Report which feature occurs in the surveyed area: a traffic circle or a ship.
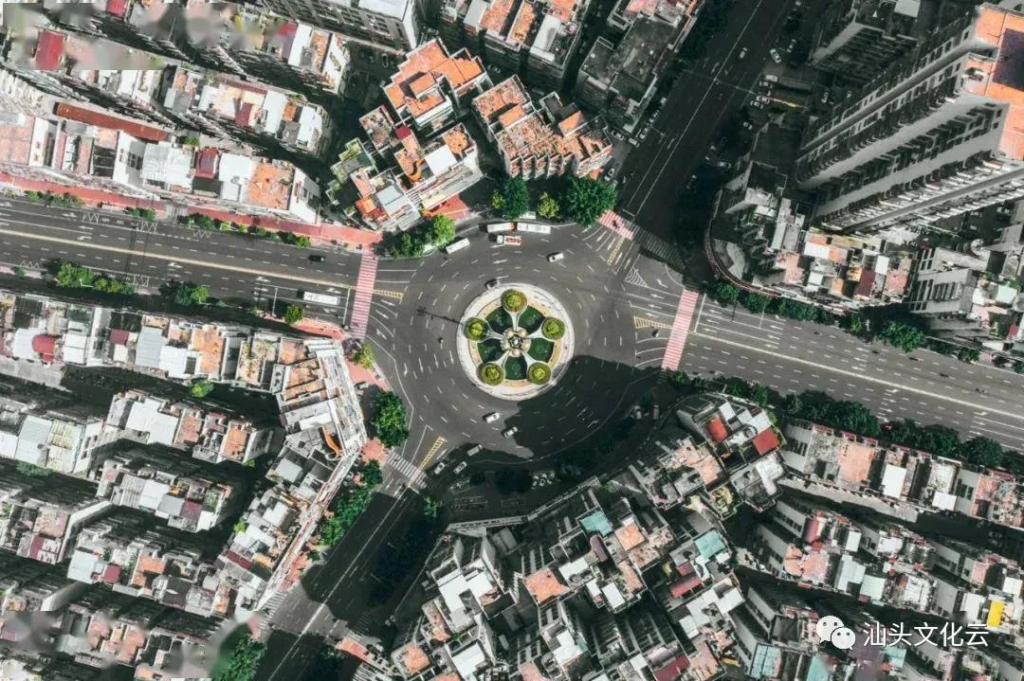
traffic circle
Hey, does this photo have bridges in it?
No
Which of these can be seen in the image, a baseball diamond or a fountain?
fountain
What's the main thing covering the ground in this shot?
buildings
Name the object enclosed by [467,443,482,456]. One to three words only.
vehicle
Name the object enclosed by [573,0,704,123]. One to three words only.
building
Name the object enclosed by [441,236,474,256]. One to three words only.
bus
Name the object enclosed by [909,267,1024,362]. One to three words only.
building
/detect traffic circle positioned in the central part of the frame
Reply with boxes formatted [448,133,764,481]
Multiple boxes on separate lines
[392,219,640,463]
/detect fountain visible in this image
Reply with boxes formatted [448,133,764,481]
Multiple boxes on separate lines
[502,330,530,356]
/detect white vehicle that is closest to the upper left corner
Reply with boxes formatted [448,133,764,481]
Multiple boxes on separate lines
[302,292,338,304]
